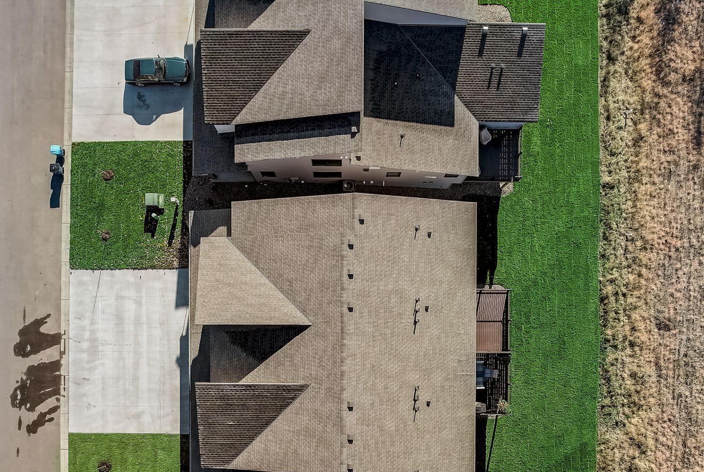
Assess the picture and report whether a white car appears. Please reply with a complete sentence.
No, there isn't any white car down there.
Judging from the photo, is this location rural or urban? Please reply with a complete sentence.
From above, the setting appears urban.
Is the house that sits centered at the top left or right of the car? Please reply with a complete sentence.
The house that sits centered at the top appears to the right of the car in this view.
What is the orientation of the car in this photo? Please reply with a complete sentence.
In this picture, the car is oriented from side to side.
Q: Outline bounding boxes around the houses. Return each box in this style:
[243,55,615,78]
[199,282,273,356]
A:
[189,192,515,472]
[192,0,546,192]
